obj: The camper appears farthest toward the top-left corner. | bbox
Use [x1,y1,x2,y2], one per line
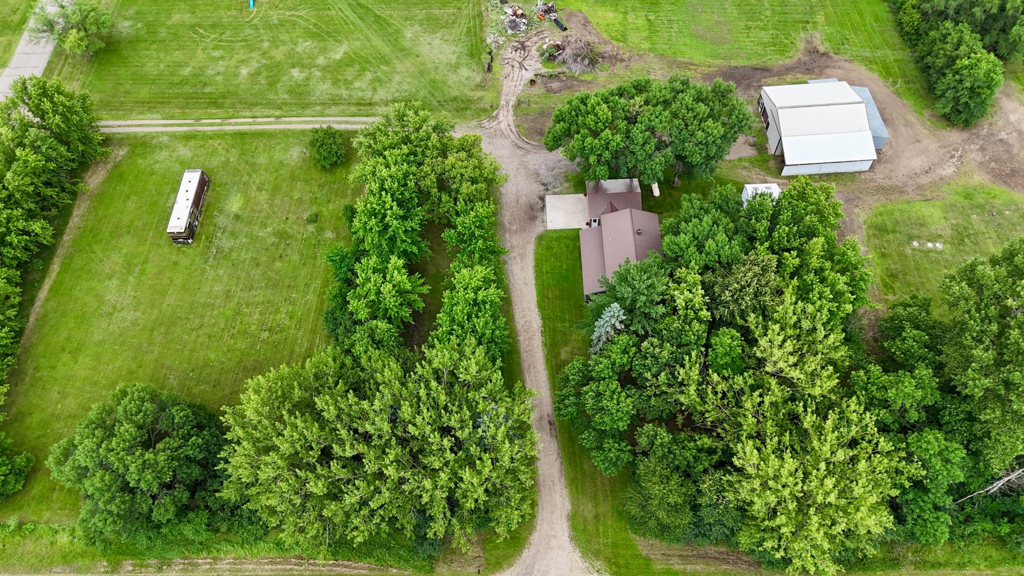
[167,170,210,247]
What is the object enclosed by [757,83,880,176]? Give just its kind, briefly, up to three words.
barn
